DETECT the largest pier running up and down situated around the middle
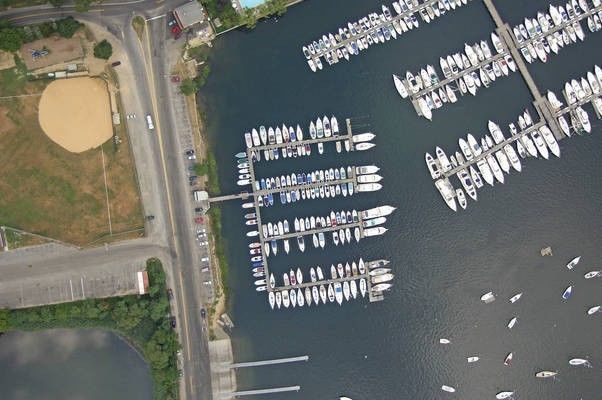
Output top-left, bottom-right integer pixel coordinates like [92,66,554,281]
[248,147,270,294]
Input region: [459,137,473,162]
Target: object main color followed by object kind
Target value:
white boat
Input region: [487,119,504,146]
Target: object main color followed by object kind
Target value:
white boat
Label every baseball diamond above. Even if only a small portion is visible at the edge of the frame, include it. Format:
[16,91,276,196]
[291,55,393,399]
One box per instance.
[0,59,146,251]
